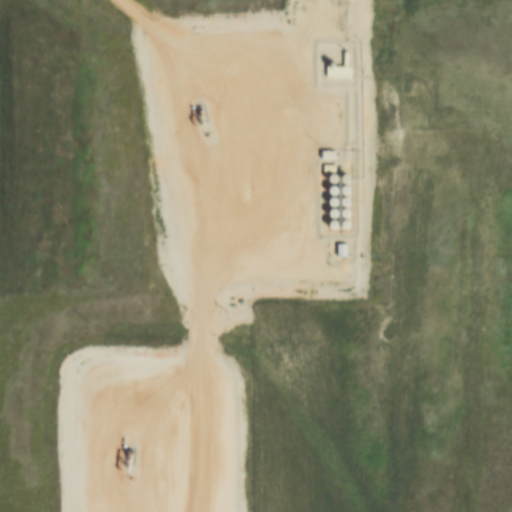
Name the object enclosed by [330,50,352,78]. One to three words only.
building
